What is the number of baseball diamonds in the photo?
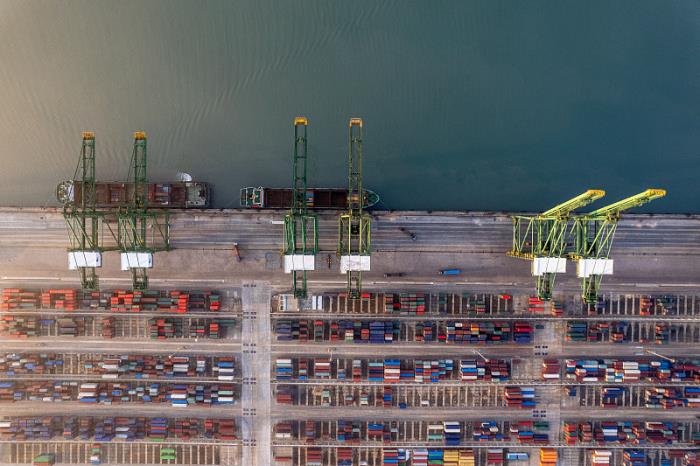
0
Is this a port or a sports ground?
port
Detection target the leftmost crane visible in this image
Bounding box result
[59,128,133,290]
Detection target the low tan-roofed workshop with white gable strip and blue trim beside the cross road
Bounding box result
[278,294,297,311]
